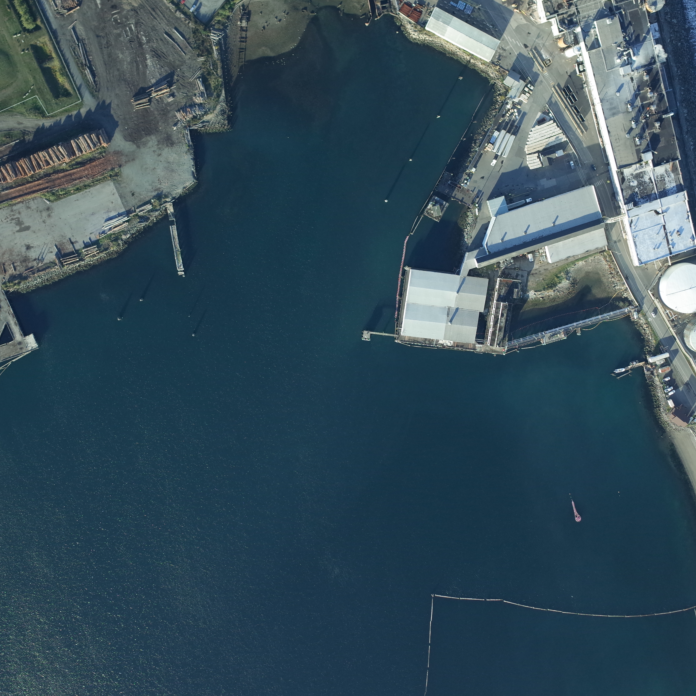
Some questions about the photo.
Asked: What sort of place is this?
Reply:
port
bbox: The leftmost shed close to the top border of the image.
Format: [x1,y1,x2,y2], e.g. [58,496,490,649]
[425,8,500,62]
